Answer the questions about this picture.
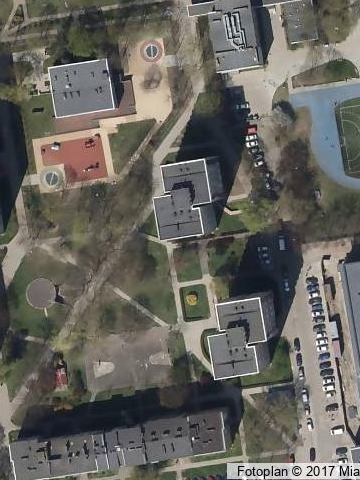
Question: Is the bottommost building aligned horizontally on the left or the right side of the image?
left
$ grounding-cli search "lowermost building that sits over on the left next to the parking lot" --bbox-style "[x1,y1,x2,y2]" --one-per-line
[10,409,232,480]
